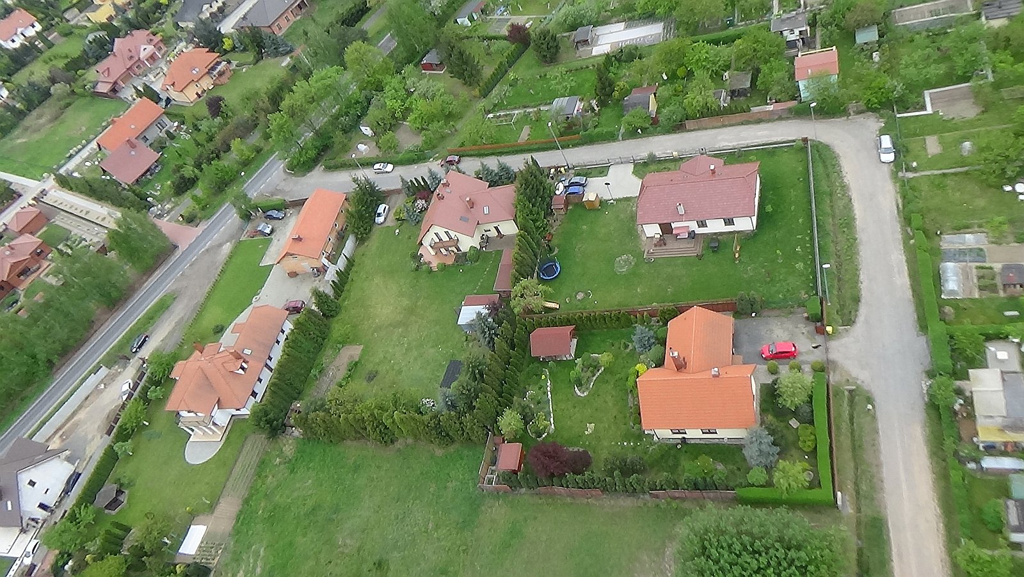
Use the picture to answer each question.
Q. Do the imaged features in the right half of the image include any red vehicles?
Yes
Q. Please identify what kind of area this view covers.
residential area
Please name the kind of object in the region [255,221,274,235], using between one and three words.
car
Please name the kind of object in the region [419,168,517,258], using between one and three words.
house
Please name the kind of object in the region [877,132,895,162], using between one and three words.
car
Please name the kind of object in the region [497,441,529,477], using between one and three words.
shed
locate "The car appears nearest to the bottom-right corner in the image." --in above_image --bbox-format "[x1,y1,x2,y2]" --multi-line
[761,341,798,360]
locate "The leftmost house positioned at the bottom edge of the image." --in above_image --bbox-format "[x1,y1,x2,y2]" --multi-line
[0,435,79,553]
